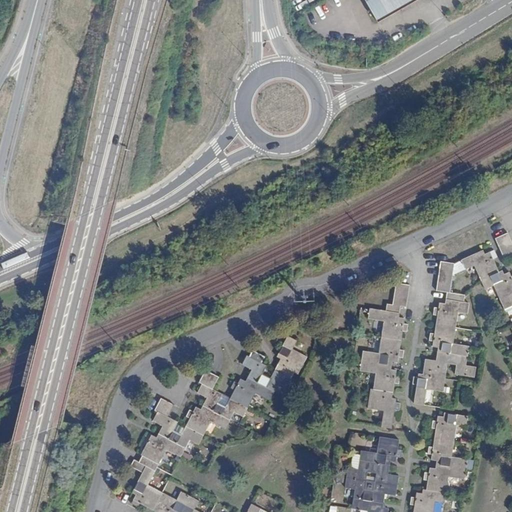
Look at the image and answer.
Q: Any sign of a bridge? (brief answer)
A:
Yes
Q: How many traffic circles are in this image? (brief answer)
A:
1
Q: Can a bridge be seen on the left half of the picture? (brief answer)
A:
Yes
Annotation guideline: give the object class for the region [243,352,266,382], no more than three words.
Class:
house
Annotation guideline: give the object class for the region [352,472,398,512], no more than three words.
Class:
house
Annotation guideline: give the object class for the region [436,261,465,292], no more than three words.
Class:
building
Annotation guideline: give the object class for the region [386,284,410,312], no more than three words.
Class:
building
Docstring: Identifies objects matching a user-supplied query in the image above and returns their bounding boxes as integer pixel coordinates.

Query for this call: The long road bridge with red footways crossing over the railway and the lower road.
[10,200,114,446]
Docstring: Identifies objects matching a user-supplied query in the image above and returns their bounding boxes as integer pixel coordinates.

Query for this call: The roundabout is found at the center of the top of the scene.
[210,42,351,172]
